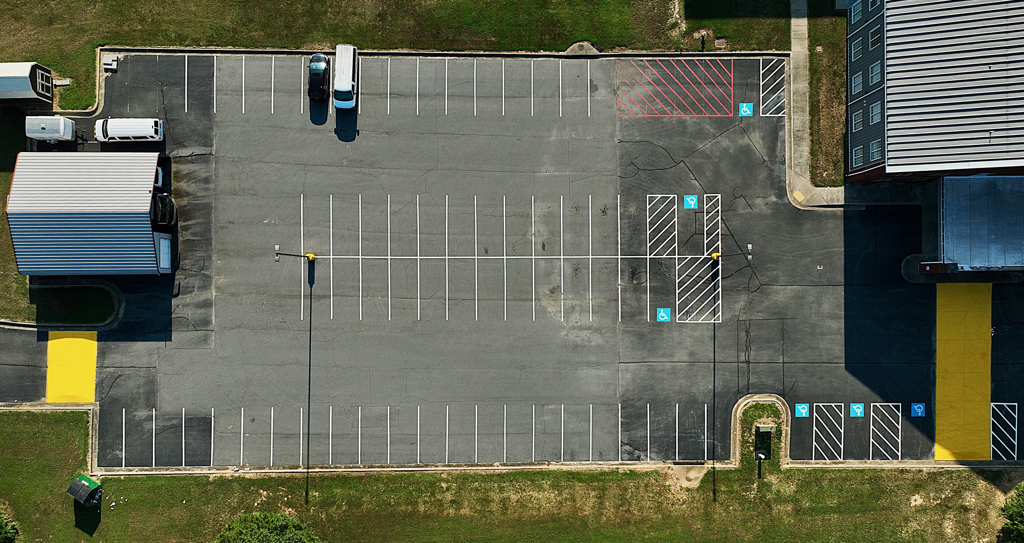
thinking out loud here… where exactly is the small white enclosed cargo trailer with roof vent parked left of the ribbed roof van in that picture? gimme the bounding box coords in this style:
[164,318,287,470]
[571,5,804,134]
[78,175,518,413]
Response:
[26,116,89,144]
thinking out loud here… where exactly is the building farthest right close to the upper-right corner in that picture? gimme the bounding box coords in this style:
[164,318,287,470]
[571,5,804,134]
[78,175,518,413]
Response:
[846,0,1024,182]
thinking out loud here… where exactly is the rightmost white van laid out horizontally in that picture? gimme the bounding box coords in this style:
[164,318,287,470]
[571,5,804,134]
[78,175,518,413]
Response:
[94,116,165,144]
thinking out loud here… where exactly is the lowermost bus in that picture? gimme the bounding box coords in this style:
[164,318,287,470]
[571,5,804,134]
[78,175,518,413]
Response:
[151,194,176,228]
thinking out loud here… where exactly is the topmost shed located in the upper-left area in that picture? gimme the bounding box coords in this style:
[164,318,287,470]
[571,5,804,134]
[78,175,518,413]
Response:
[0,63,52,102]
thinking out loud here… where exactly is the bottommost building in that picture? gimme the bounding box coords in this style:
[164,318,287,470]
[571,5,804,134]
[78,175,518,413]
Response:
[6,152,172,274]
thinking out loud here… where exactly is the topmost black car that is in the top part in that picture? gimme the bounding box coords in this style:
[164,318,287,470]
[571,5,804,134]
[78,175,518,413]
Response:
[305,53,329,101]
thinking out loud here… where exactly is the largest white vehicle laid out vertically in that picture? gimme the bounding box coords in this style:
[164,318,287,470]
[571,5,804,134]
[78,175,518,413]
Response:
[332,45,360,111]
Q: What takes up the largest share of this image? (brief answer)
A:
paved ground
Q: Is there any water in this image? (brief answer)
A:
No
